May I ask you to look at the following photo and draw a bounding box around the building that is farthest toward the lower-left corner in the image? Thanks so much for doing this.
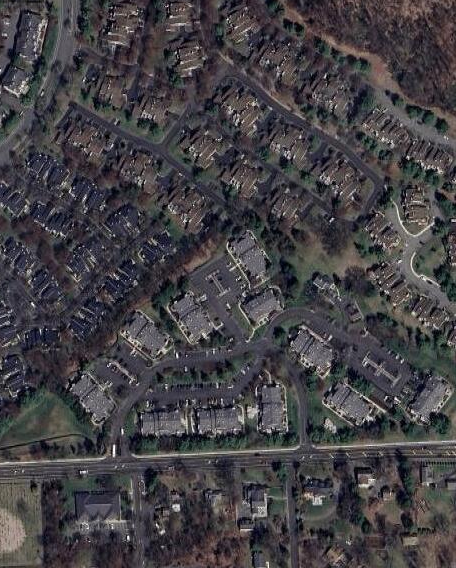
[74,492,120,524]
